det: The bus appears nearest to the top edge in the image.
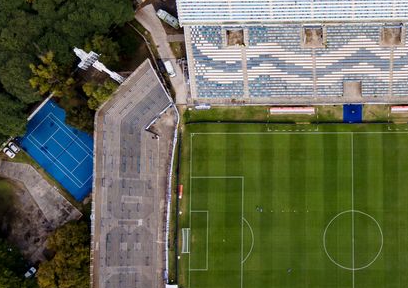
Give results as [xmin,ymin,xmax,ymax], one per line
[156,9,182,33]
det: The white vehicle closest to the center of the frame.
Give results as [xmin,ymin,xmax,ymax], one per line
[163,59,175,77]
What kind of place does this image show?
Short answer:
sports ground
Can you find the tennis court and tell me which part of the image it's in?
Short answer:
left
